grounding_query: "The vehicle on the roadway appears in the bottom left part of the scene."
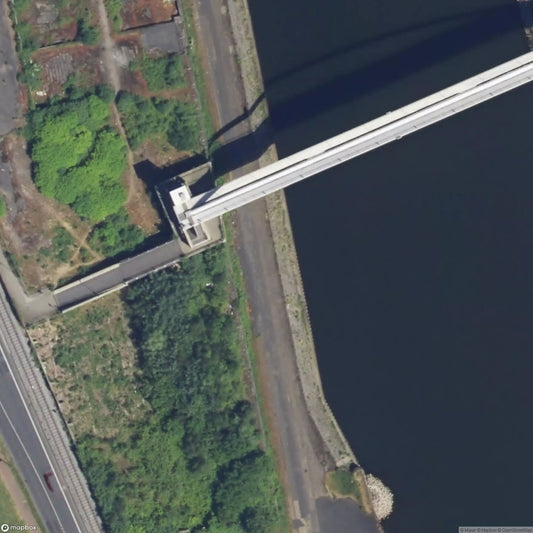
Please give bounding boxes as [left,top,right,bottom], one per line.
[44,473,58,492]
